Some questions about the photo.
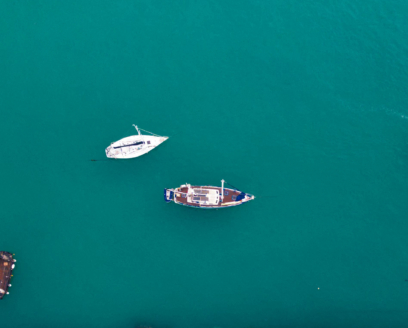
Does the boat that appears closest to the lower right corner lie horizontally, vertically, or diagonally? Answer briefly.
horizontally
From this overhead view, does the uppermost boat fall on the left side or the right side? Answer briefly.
left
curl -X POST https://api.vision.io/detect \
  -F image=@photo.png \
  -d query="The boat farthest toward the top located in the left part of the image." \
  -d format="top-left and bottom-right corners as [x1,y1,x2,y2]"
[104,124,169,160]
